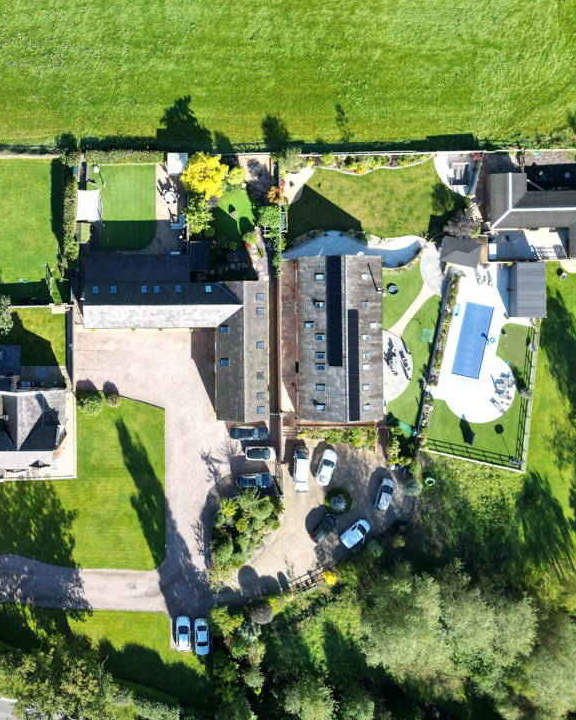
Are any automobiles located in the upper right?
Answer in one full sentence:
No, I see no automobile in the upper right.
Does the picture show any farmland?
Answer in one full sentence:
Yes, some farmland is visible.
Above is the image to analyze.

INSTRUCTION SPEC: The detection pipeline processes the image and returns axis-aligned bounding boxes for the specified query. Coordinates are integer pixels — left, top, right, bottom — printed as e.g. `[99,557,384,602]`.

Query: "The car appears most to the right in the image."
[373,477,395,511]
